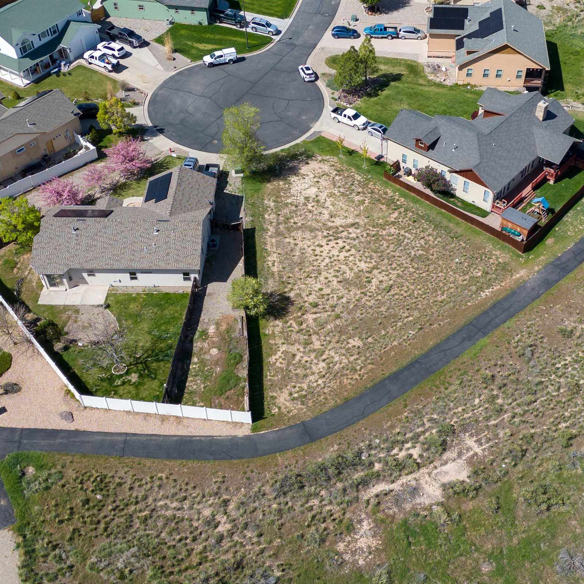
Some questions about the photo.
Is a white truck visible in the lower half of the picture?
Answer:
No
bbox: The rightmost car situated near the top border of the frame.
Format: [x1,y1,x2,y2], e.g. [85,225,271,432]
[398,26,425,40]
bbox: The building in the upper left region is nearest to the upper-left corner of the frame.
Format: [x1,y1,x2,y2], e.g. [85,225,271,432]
[0,0,100,88]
